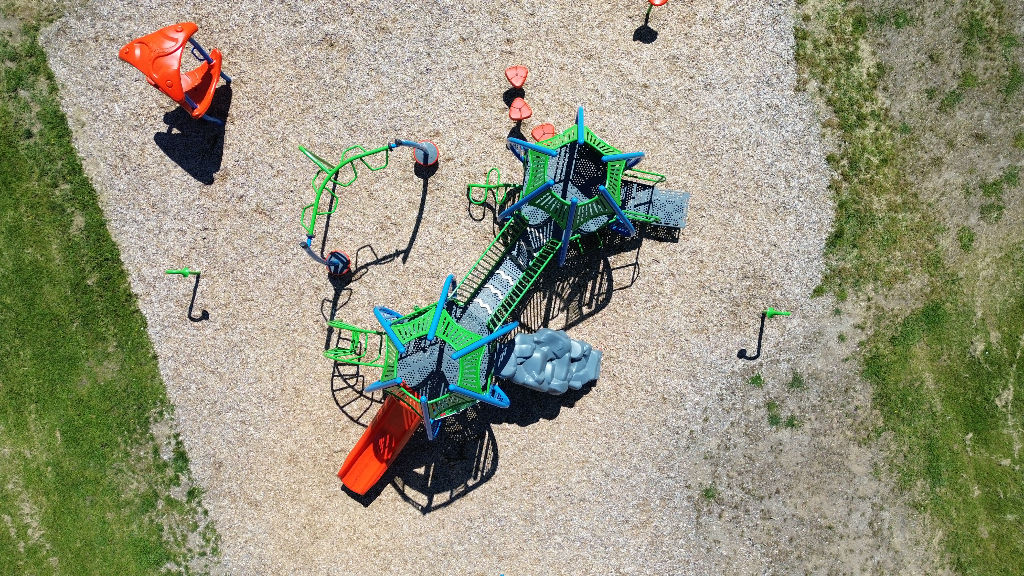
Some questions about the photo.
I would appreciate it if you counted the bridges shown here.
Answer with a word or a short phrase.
1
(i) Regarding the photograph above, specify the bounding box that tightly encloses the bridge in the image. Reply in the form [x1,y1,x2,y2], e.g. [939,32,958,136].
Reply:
[450,212,561,330]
